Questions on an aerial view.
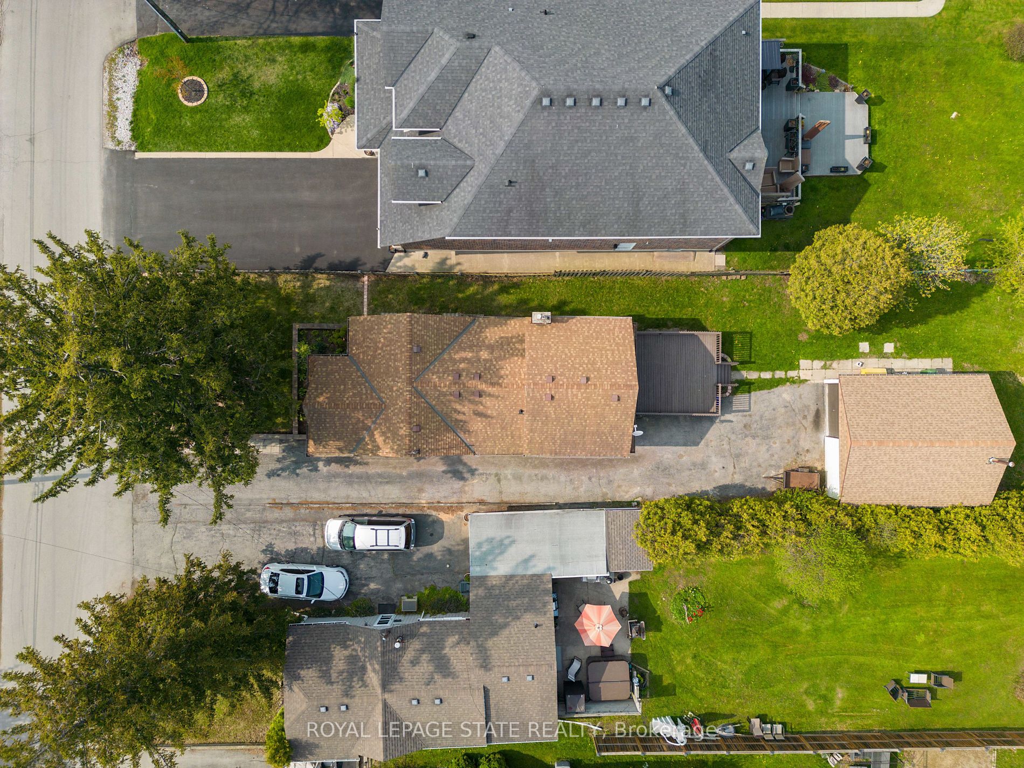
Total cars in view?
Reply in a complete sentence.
The photo contains 2 cars.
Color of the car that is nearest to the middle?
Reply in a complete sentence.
The car that is nearest to the middle is white.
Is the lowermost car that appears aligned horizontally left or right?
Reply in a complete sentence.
It is on the left.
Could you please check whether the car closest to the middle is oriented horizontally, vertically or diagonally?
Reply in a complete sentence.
I'd say the car closest to the middle is aligned horizontally in the picture.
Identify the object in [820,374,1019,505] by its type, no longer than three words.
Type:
building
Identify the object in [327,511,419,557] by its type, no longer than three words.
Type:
car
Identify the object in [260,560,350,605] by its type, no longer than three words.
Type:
car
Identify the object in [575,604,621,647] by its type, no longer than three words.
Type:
umbrella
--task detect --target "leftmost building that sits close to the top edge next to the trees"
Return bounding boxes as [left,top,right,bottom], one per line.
[353,0,770,256]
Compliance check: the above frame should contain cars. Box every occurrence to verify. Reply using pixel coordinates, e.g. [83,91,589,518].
[260,560,350,605]
[327,511,419,557]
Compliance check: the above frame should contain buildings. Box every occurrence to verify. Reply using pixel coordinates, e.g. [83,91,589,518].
[300,312,644,459]
[283,574,558,768]
[598,506,653,572]
[353,0,770,256]
[820,374,1019,505]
